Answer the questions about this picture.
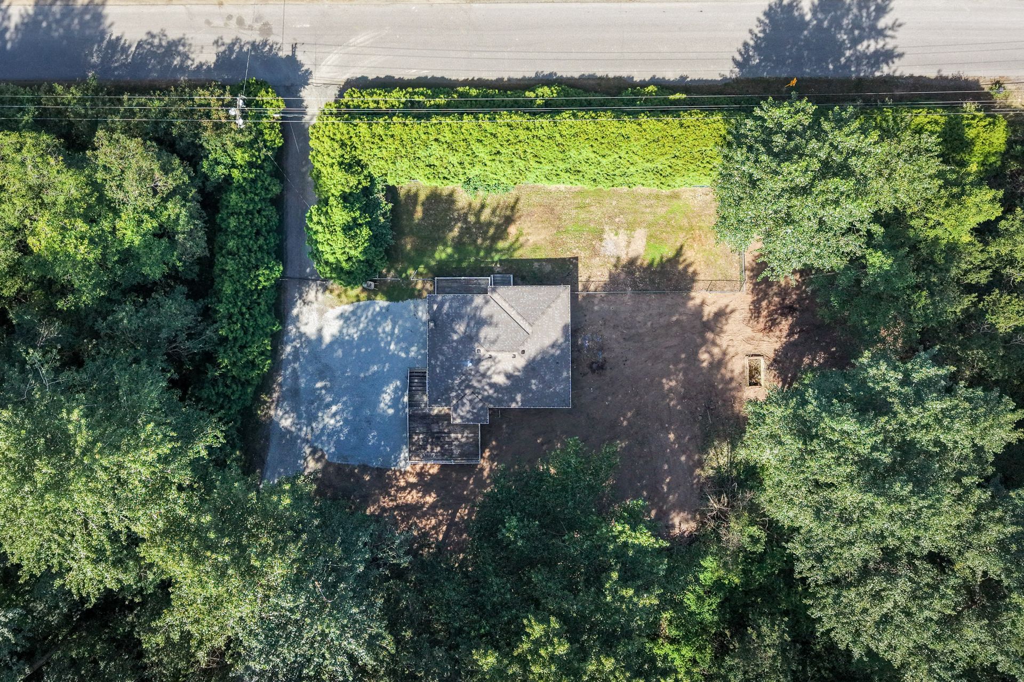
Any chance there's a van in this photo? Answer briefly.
No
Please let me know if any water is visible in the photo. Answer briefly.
No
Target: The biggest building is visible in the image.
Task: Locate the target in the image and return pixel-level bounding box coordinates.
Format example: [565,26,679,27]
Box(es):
[426,285,572,425]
